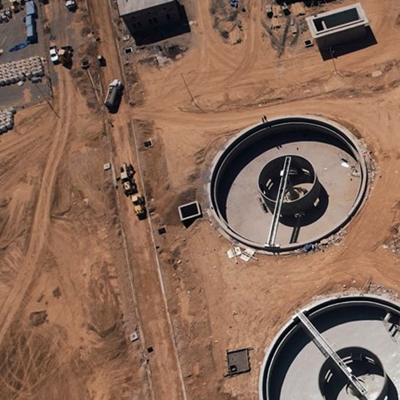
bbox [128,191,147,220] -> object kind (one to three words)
work vehicle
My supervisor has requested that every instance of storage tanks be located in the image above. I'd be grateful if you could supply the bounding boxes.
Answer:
[207,116,371,253]
[255,294,400,400]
